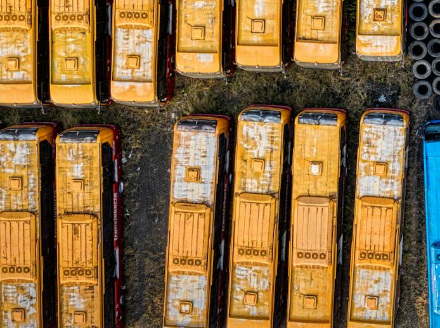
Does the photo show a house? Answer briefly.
No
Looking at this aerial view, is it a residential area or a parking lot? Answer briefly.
parking lot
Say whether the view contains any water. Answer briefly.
No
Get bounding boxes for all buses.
[354,0,406,71]
[176,0,236,86]
[346,102,410,328]
[0,120,64,328]
[288,102,348,328]
[164,109,233,328]
[112,0,177,115]
[419,120,440,328]
[0,0,54,116]
[292,0,350,78]
[235,0,294,79]
[49,0,114,116]
[227,101,292,328]
[56,120,128,328]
